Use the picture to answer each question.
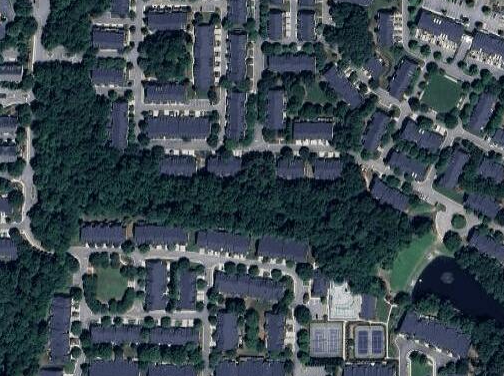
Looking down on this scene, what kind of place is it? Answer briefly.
residential area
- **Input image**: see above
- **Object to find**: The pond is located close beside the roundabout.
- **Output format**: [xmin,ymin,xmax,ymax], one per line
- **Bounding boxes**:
[411,254,504,331]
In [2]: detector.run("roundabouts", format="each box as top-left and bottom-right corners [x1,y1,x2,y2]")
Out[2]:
[437,199,475,242]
